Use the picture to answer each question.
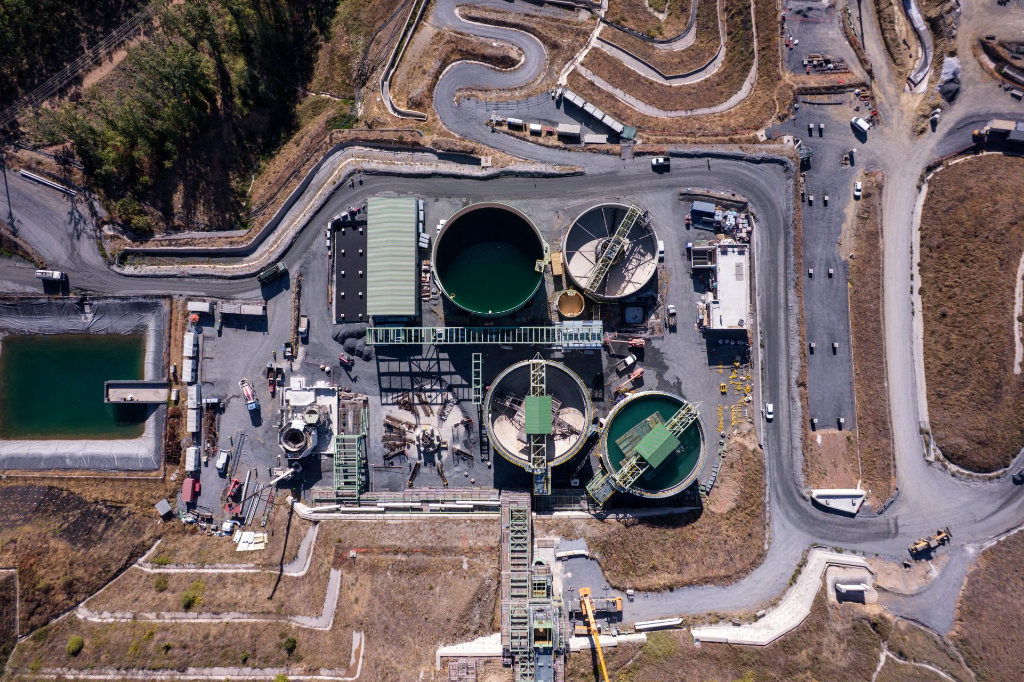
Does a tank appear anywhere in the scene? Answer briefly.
Yes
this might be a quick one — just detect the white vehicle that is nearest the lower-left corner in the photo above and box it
[214,449,232,473]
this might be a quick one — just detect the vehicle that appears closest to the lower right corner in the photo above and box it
[912,526,948,552]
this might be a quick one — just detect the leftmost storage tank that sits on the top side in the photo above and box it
[431,201,551,319]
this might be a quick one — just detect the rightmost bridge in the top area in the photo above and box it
[584,205,641,291]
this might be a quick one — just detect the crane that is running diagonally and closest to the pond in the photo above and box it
[227,459,308,514]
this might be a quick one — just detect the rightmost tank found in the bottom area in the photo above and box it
[581,391,708,504]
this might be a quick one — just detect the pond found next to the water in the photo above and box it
[0,298,170,470]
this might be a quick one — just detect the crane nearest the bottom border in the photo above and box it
[569,585,619,682]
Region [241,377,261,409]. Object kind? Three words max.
vehicle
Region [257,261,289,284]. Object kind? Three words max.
truck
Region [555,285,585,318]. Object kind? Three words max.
storage tank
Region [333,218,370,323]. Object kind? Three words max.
building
